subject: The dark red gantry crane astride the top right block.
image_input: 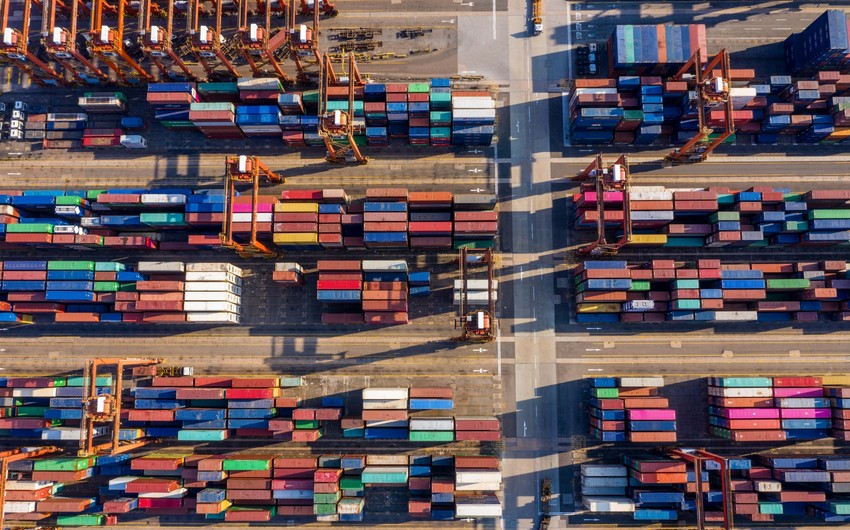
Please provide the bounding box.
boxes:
[662,50,731,157]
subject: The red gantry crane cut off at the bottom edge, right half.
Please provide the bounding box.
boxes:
[659,446,733,530]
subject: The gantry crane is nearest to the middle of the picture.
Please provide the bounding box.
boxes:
[453,247,496,346]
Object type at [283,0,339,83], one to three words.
container crane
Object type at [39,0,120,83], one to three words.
container crane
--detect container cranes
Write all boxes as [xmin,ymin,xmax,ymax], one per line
[0,0,76,83]
[0,444,68,530]
[184,0,252,83]
[81,356,168,456]
[659,446,733,530]
[135,0,208,83]
[85,0,165,83]
[453,247,496,346]
[316,51,369,159]
[283,0,339,83]
[39,0,120,83]
[234,0,296,83]
[574,151,632,253]
[662,50,731,157]
[221,154,286,255]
